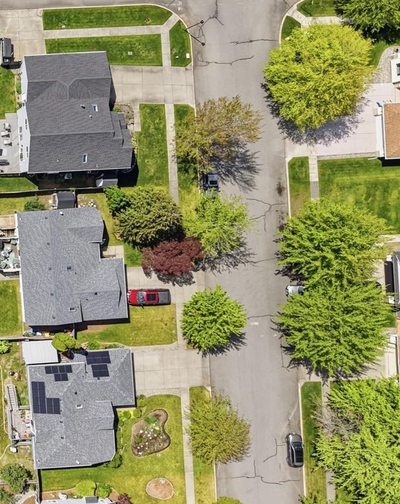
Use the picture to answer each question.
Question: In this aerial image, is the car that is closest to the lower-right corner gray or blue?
gray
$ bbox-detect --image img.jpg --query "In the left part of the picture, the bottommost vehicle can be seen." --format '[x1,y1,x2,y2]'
[129,288,173,307]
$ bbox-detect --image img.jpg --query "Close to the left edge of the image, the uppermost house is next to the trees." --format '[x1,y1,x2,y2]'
[18,50,134,173]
